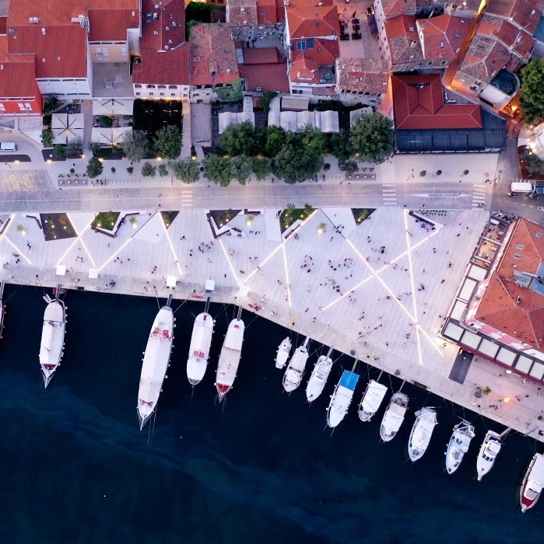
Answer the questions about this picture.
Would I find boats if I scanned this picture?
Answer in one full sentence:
Yes, I can see a boat in this picture.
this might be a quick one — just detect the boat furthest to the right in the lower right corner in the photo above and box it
[517,444,544,521]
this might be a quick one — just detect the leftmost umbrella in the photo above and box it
[52,113,83,144]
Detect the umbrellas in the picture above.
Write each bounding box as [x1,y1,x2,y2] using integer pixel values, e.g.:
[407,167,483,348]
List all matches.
[367,15,379,33]
[92,127,132,144]
[135,124,157,145]
[134,100,157,123]
[159,100,181,123]
[52,113,83,144]
[93,99,133,114]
